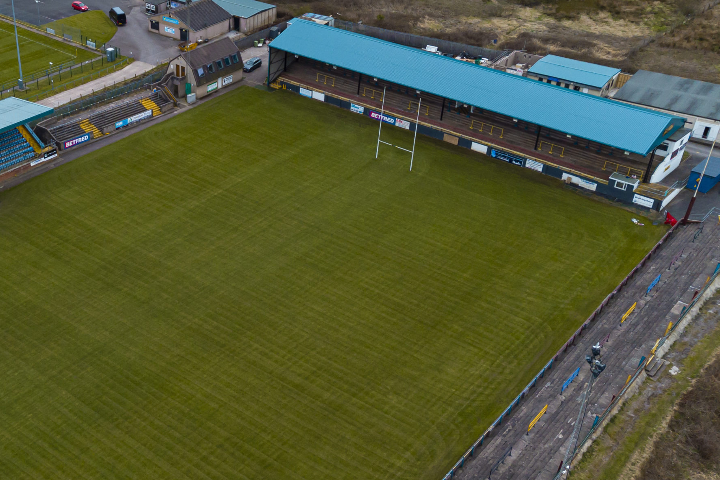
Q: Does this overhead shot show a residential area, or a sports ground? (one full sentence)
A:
The picture captures a sports ground.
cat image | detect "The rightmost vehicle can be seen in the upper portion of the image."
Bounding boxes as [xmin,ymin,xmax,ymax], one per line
[244,56,266,71]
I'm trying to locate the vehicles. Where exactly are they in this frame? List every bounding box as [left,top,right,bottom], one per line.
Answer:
[110,6,124,23]
[244,56,266,71]
[69,0,88,11]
